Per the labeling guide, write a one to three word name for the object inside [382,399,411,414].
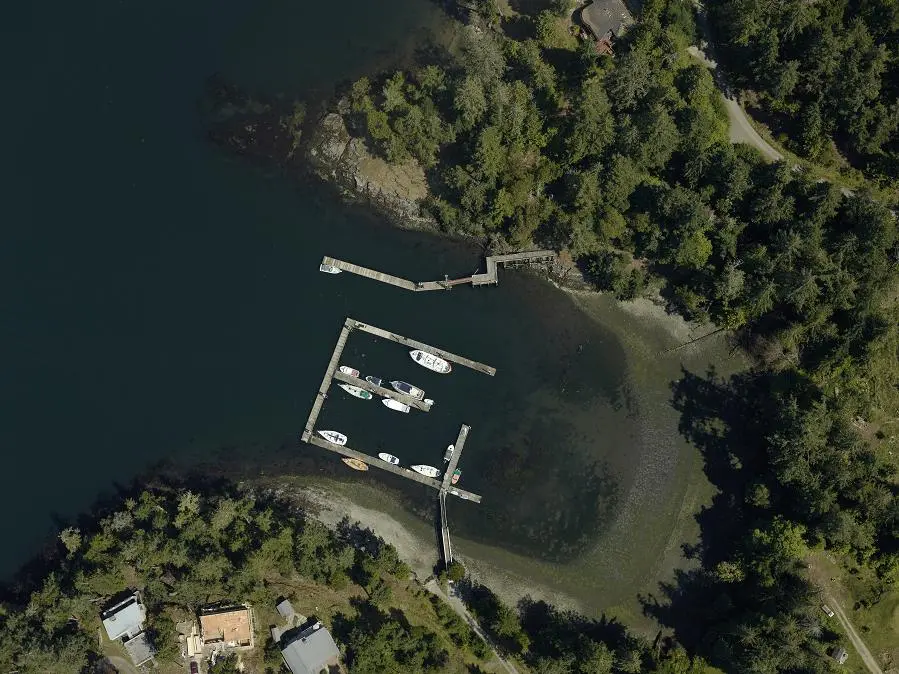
boat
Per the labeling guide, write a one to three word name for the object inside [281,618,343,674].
house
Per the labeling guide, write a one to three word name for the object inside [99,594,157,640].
house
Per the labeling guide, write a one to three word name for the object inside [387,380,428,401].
boat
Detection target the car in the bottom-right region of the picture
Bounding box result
[821,603,836,619]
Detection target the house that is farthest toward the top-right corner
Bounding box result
[582,0,634,55]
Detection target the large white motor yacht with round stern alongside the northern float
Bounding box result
[409,350,454,375]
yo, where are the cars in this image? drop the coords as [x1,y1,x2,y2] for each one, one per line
[821,603,836,619]
[191,660,198,674]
